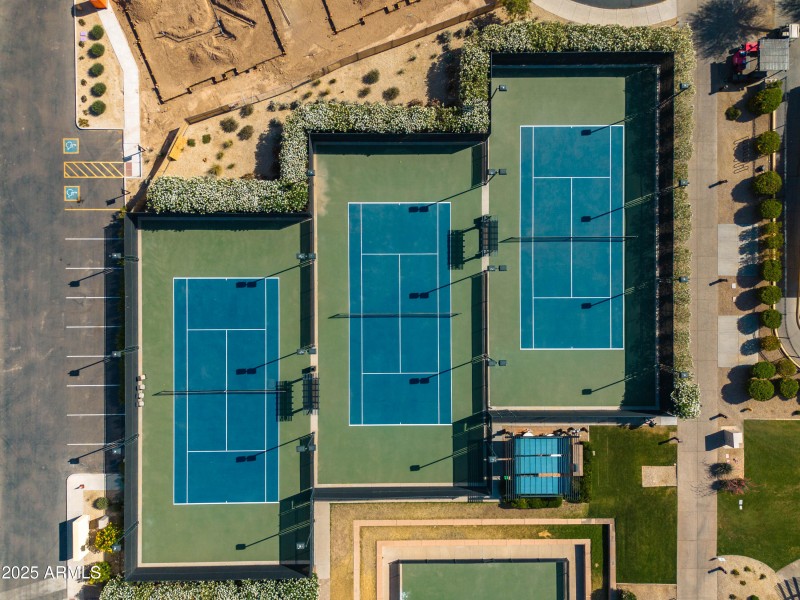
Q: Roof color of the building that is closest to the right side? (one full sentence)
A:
From above, the roof of the building that is closest to the right side looks blue.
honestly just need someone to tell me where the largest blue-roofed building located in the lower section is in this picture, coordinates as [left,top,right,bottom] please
[505,430,580,500]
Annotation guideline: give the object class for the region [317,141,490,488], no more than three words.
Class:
tennis court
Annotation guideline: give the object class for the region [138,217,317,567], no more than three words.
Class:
tennis court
